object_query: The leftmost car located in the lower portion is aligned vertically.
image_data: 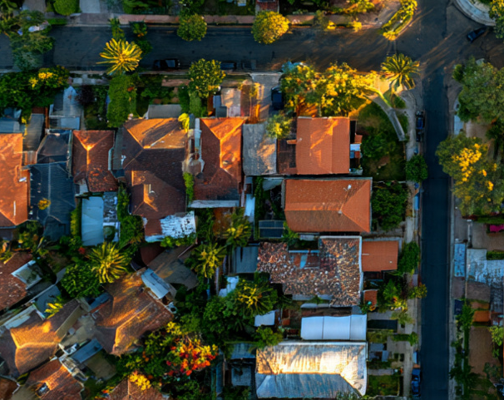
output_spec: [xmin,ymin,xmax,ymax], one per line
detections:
[410,366,423,394]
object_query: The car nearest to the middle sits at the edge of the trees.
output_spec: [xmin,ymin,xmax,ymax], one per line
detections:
[271,85,284,109]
